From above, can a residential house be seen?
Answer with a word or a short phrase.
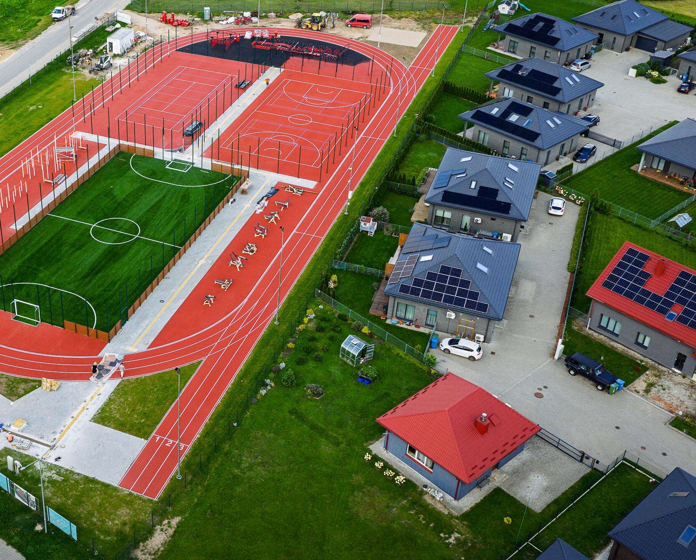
Yes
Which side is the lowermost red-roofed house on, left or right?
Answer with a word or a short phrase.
right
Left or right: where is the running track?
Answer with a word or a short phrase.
left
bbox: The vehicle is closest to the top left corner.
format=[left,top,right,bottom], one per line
[54,2,77,18]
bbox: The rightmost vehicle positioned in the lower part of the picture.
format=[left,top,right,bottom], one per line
[563,352,615,390]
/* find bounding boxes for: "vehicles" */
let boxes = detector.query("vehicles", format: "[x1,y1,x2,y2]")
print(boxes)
[289,11,333,31]
[568,58,593,72]
[583,112,606,127]
[344,14,374,30]
[549,196,567,215]
[574,141,600,162]
[563,352,615,390]
[54,2,77,18]
[440,339,484,363]
[84,51,112,71]
[678,81,696,94]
